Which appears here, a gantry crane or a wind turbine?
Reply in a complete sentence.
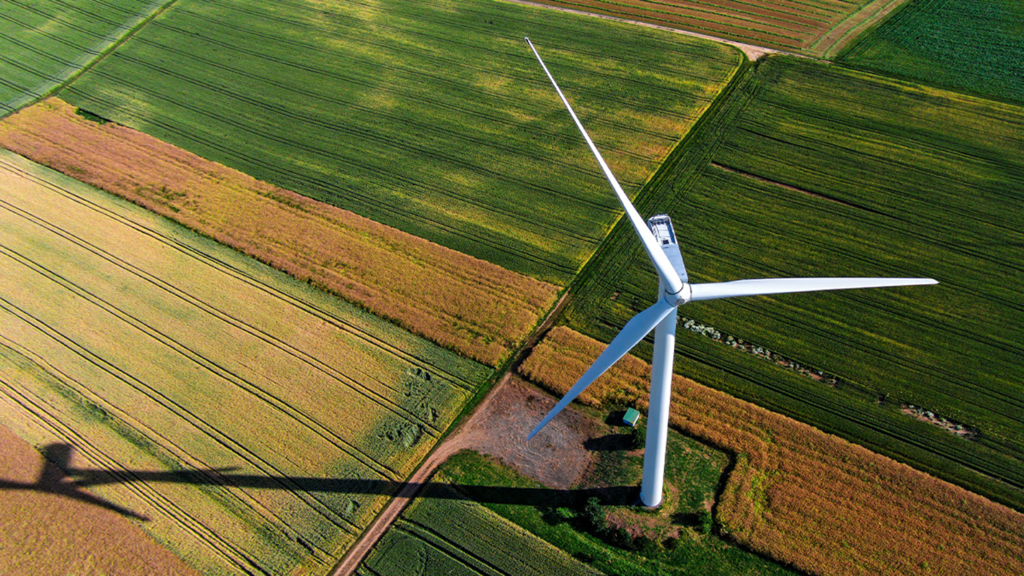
Of the two, only a wind turbine appears.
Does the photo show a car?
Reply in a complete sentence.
No, no car can be seen from above.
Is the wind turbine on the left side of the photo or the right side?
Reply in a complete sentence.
The wind turbine appears in the right half of the scene.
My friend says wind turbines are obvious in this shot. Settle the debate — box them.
[527,40,939,510]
